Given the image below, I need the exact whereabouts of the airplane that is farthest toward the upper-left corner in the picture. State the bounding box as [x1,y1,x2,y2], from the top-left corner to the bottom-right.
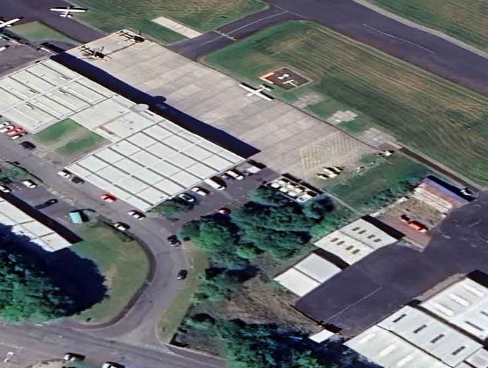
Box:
[0,14,19,29]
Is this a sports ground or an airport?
airport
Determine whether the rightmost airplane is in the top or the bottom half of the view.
top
